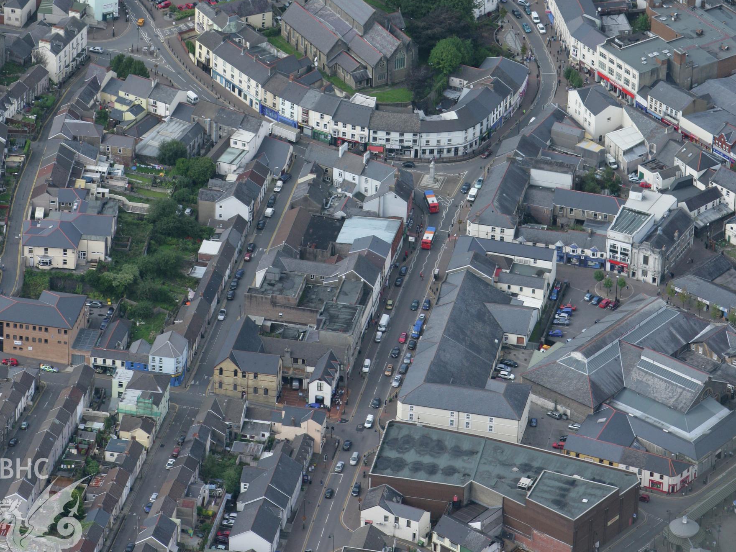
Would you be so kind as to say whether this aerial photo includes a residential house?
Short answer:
Yes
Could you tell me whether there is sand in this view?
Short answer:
No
